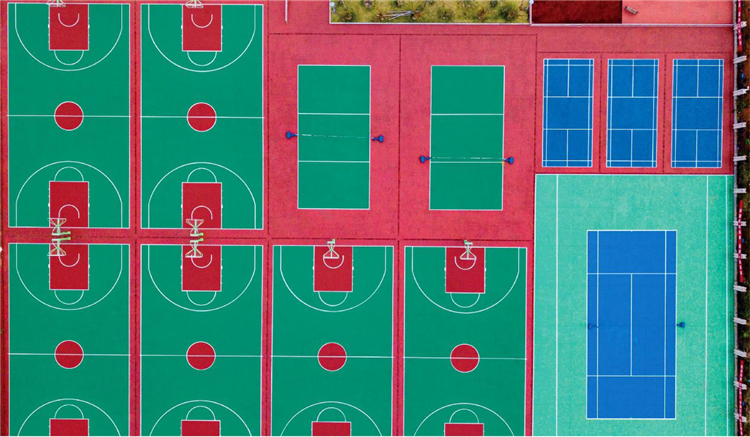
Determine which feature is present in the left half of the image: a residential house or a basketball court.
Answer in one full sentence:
Visible in the left half of the image is a basketball court.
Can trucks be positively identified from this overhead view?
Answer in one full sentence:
No, the photo shows no truck.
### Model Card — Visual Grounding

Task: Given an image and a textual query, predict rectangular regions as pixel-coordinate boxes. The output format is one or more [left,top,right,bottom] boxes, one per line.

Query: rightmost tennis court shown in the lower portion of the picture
[533,173,734,437]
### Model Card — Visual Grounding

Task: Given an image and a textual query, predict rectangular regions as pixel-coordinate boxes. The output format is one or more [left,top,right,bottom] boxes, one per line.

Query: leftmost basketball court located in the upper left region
[7,3,130,228]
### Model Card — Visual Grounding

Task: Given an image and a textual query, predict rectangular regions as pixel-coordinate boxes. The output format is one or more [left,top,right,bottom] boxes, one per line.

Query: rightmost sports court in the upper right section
[672,59,724,168]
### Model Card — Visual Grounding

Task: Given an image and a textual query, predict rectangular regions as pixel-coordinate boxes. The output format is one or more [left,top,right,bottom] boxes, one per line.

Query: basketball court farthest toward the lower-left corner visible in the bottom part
[7,242,130,437]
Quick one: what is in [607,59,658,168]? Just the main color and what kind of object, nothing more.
blue sports court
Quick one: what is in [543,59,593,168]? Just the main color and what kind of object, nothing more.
blue sports court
